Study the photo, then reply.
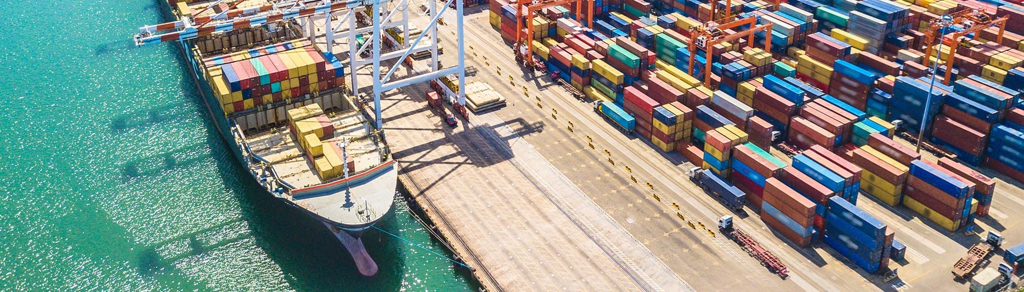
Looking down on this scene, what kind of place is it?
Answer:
port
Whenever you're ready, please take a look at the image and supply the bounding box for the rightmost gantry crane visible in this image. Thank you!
[924,3,1014,92]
